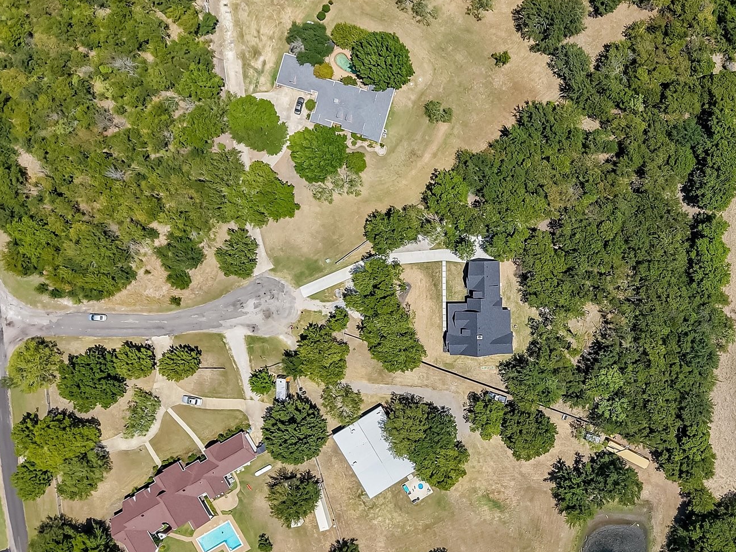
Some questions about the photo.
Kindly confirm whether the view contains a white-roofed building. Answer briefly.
Yes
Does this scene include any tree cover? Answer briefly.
Yes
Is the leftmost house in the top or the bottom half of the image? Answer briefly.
bottom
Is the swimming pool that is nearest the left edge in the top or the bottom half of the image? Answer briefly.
bottom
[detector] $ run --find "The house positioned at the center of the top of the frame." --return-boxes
[275,52,395,143]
